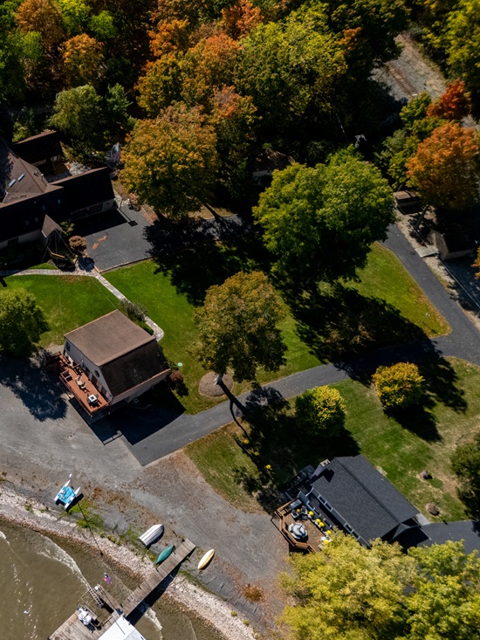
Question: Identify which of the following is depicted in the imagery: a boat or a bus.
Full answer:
The image shows a boat.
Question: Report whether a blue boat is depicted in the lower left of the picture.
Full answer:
Yes, I can see a blue boat in the lower left of the picture.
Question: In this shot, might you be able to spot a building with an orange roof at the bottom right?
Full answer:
No, no building with an orange roof is visible at the bottom right.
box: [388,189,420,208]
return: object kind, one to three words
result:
shed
